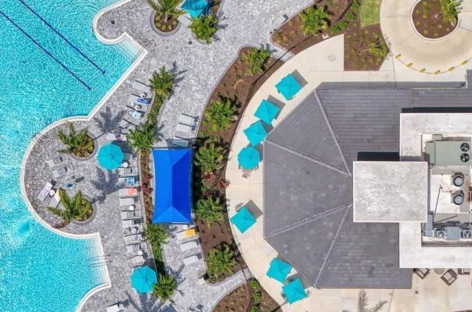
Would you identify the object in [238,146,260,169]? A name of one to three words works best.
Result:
umbrella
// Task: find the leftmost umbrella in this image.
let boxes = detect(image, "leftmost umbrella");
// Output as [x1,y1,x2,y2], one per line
[98,143,124,171]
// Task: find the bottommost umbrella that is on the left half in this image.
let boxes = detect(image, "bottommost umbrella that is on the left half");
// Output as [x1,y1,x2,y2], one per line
[130,266,157,293]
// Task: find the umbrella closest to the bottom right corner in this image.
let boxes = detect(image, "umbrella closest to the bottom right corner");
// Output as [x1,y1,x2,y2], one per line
[281,277,306,304]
